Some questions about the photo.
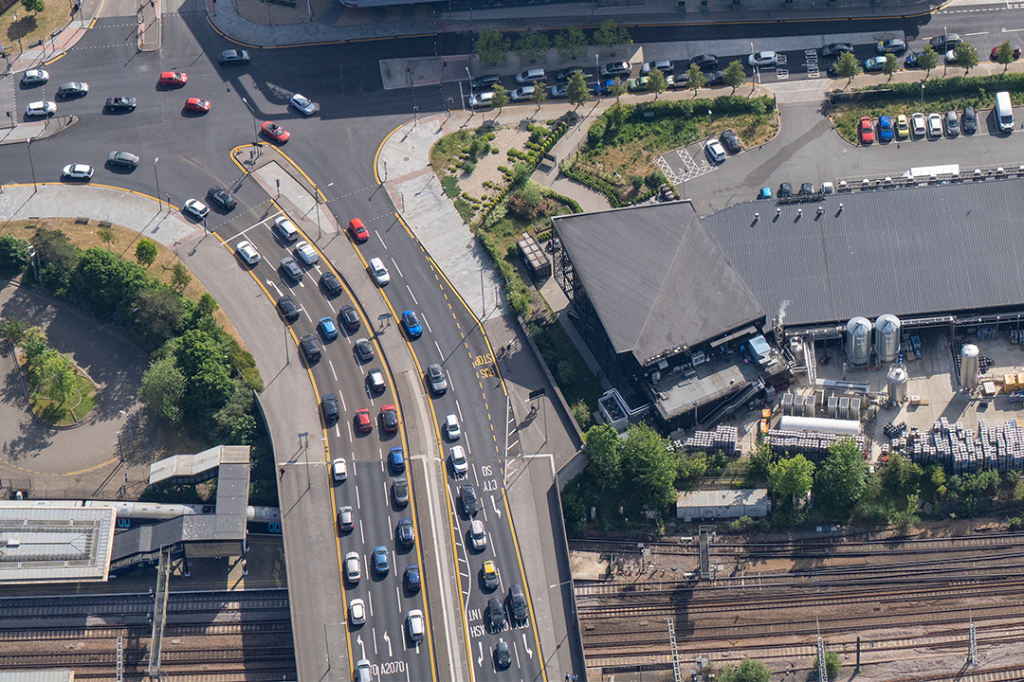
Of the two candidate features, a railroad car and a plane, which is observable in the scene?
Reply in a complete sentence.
This aerial view contains a railroad car.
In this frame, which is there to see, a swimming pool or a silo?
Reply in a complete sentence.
I can see a silo in this picture.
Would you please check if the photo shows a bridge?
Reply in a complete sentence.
Yes, a bridge can be made out from above.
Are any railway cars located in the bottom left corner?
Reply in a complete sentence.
Yes, in the bottom left corner there is a railway car.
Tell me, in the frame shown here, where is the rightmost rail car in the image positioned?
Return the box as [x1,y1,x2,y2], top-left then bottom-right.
[251,513,283,540]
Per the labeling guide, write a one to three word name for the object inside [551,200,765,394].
building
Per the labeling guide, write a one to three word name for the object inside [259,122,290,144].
car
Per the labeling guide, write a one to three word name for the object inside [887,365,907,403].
silo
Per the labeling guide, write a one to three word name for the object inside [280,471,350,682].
bridge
